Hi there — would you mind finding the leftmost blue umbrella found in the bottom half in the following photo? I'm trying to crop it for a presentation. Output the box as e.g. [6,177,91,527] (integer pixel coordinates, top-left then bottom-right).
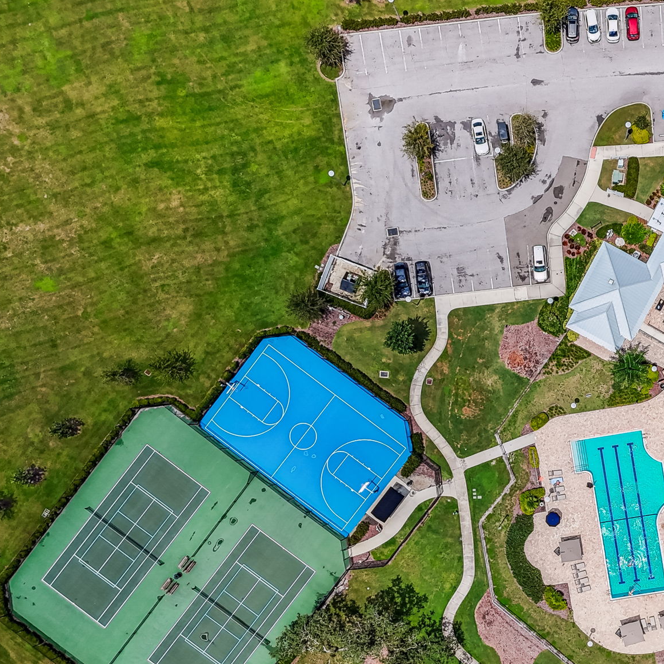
[545,511,560,526]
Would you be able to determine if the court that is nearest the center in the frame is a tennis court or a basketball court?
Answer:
basketball court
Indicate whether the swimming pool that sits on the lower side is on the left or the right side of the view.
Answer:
right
